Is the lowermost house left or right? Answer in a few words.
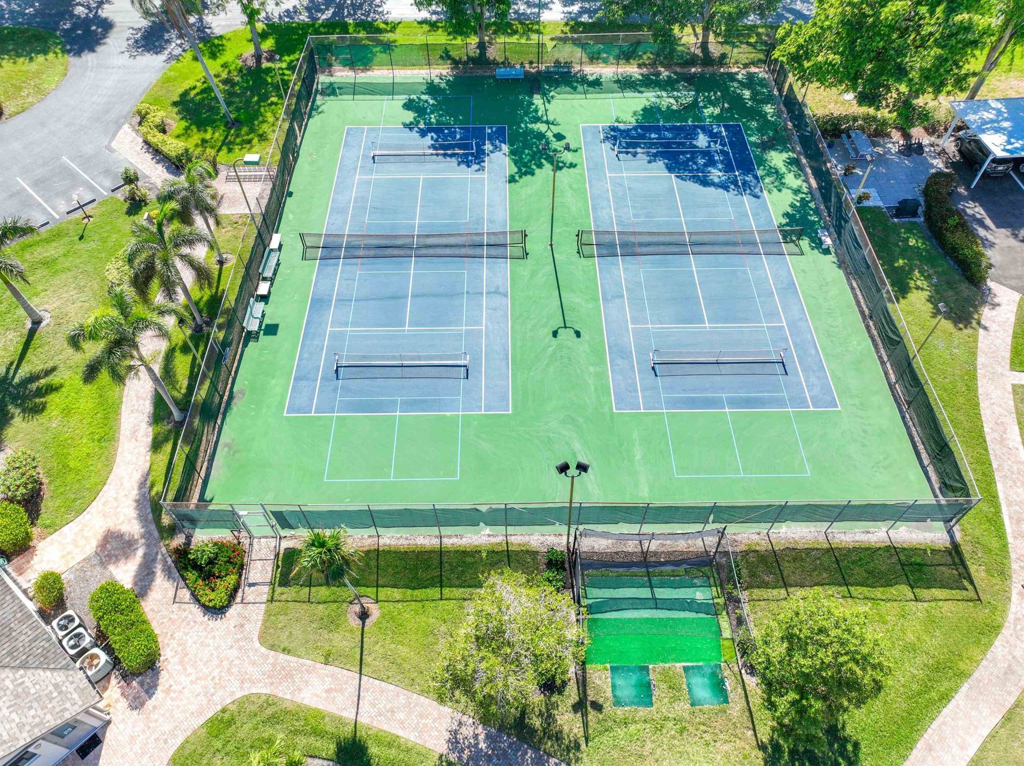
left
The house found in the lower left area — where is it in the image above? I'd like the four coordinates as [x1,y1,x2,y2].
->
[0,562,110,766]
